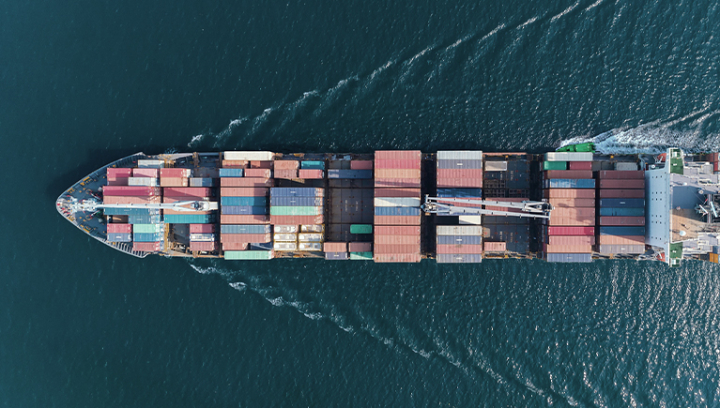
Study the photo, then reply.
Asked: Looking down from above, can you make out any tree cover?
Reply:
No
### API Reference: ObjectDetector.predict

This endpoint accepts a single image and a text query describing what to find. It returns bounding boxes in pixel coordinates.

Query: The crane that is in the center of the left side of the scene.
[94,198,221,214]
